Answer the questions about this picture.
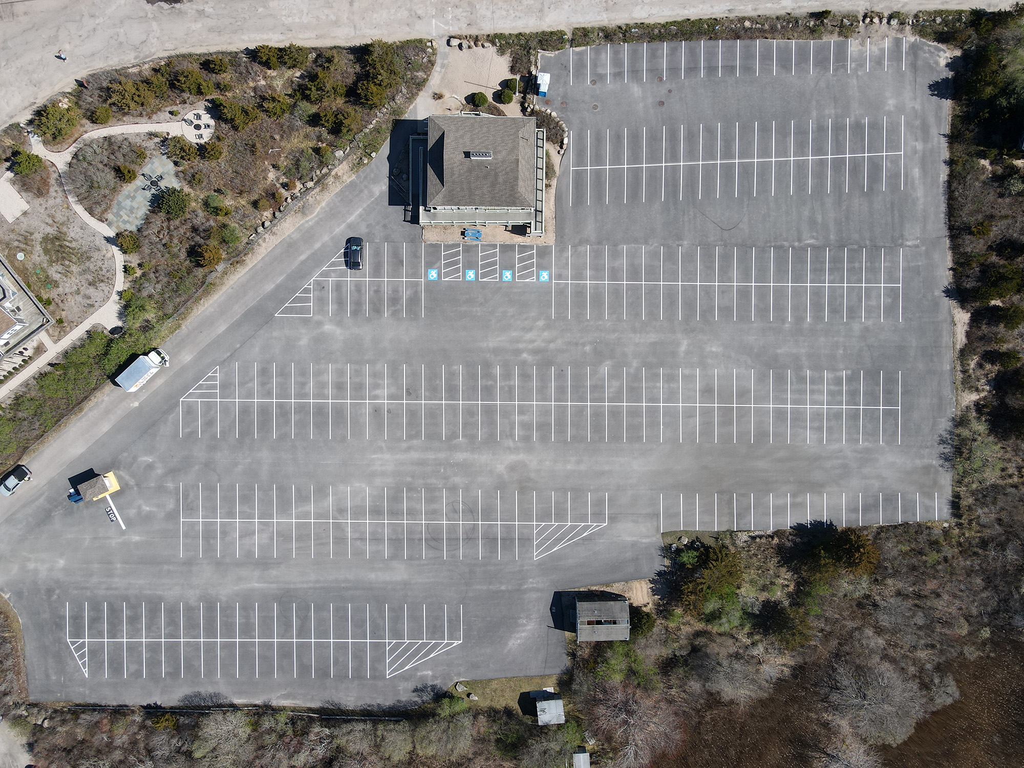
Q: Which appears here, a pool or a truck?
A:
truck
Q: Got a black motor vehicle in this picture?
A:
Yes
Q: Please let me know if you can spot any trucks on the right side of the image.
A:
No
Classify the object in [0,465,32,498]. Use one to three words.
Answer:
truck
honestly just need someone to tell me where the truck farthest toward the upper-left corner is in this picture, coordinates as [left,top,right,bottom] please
[115,348,172,392]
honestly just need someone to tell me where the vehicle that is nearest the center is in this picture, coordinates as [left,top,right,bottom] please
[348,238,364,270]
